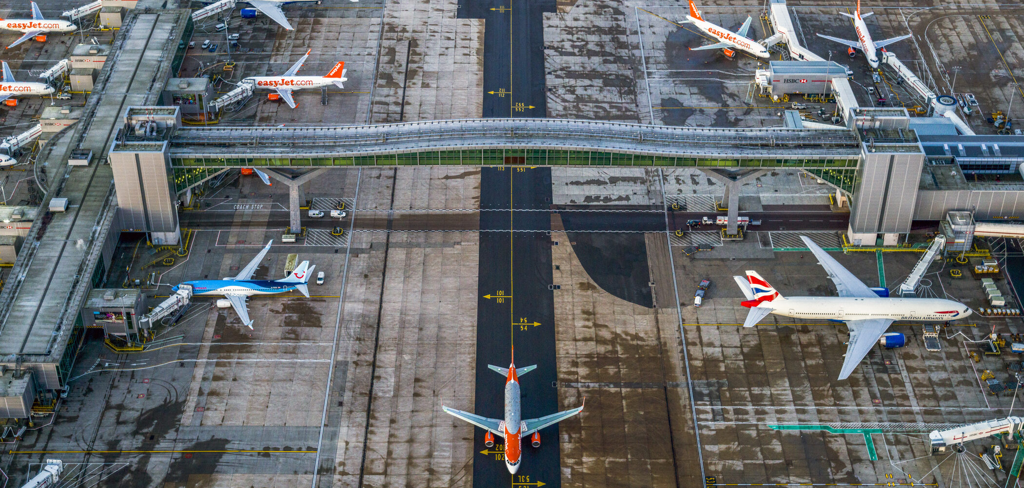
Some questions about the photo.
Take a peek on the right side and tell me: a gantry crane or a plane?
plane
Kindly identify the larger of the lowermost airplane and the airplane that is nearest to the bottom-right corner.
the airplane that is nearest to the bottom-right corner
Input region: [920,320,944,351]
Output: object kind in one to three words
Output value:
work vehicle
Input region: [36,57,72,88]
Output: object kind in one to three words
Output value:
jet bridge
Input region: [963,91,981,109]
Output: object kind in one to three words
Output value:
work vehicle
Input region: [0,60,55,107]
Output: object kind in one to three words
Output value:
airplane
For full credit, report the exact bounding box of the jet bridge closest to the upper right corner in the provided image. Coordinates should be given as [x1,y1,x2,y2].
[876,54,939,117]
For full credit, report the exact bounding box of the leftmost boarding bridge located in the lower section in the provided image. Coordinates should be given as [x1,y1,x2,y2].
[20,456,67,488]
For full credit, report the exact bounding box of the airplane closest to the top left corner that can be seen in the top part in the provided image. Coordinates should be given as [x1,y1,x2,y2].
[0,1,77,49]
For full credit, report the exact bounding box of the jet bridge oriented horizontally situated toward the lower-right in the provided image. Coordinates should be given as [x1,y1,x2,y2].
[929,414,1021,457]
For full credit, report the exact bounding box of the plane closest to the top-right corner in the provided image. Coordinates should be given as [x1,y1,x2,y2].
[817,0,912,68]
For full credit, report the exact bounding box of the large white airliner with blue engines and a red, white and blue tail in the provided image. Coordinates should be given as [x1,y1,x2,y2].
[734,236,972,379]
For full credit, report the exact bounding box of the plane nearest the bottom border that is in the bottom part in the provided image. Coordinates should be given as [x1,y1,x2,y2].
[441,349,582,477]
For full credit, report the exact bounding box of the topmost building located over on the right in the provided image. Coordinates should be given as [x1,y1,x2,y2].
[769,60,848,98]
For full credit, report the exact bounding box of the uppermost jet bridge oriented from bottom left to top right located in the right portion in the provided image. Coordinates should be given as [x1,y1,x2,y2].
[902,239,947,297]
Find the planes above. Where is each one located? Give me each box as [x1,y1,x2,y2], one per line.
[0,150,17,173]
[441,349,582,477]
[172,239,311,329]
[817,0,912,68]
[240,0,335,31]
[734,236,972,379]
[0,1,77,49]
[674,3,770,58]
[236,47,346,107]
[0,60,55,107]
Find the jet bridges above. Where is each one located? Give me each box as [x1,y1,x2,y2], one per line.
[0,122,48,158]
[201,0,241,23]
[210,81,255,122]
[902,239,947,297]
[929,414,1021,457]
[142,286,195,343]
[876,54,939,117]
[20,456,67,488]
[62,0,107,29]
[36,57,72,88]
